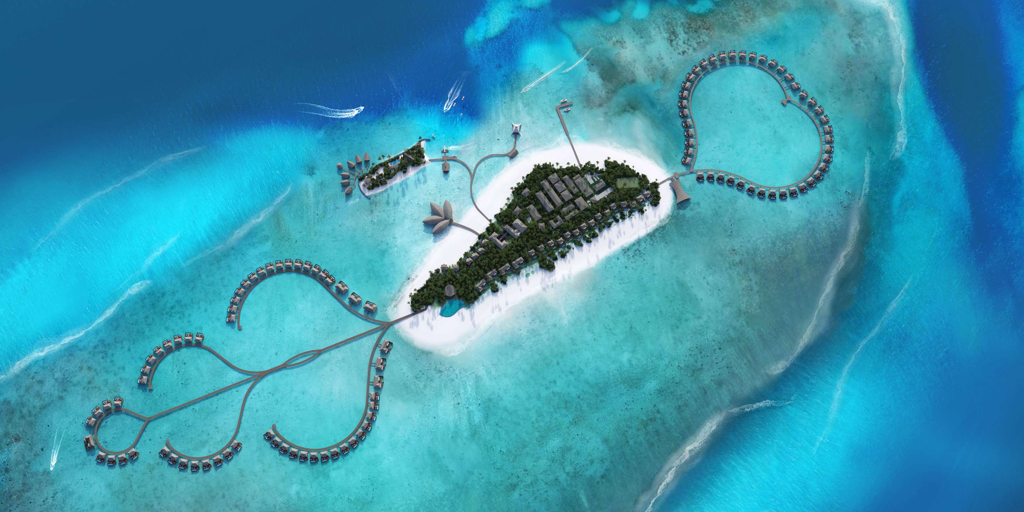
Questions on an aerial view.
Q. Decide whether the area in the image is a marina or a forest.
marina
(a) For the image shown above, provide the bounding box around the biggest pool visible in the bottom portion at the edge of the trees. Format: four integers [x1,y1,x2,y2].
[439,299,467,317]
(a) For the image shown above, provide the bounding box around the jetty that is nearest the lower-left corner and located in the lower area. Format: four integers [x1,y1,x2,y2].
[95,408,149,454]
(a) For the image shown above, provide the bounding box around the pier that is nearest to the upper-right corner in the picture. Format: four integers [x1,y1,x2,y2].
[689,60,823,188]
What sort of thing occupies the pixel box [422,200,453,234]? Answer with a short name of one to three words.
building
